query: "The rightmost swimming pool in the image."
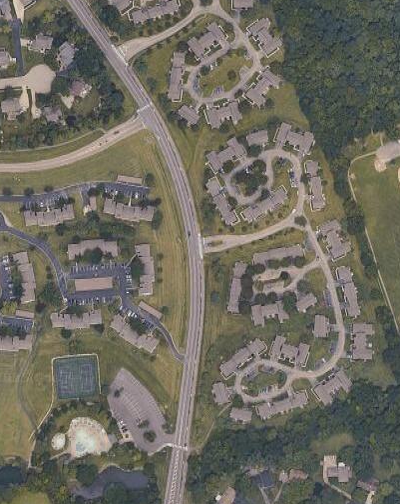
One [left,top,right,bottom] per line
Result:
[68,416,111,457]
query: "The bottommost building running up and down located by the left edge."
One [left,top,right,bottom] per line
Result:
[12,250,35,305]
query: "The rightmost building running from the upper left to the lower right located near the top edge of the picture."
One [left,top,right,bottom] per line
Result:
[242,15,288,62]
